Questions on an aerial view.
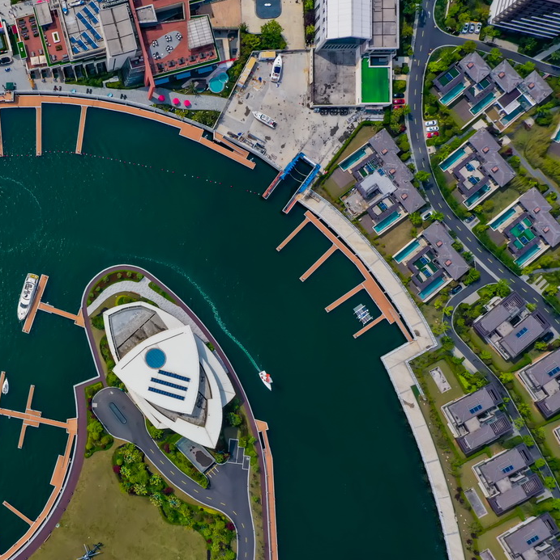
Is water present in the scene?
Yes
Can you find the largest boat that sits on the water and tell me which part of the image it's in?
left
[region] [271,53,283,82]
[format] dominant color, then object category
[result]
white boat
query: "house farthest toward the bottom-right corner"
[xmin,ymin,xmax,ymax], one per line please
[494,511,560,560]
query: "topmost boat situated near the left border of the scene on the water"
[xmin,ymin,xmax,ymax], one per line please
[18,271,39,320]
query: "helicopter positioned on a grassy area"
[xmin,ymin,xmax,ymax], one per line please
[78,543,103,560]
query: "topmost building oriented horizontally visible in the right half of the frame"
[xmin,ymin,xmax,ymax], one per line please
[487,0,560,37]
